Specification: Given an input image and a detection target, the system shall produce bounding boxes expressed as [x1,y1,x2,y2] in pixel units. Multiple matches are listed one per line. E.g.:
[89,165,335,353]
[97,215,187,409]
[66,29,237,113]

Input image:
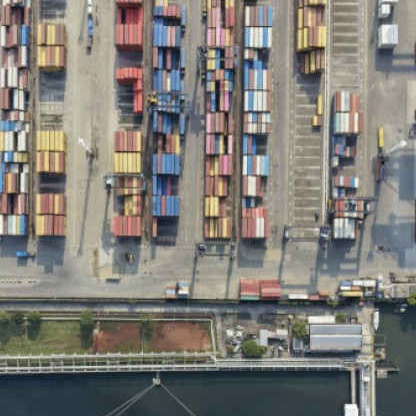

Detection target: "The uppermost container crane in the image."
[194,46,240,75]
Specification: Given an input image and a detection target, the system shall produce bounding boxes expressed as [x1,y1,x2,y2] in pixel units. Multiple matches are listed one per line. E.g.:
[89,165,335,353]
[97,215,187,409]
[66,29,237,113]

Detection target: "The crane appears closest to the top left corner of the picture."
[147,93,191,121]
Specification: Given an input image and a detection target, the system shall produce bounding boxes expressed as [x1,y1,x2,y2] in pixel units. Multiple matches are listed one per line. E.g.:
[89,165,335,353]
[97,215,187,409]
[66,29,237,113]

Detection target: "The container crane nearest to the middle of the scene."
[193,240,239,260]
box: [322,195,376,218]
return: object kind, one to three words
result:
container crane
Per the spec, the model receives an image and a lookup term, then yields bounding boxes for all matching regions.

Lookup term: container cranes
[193,240,239,260]
[147,93,191,121]
[102,173,150,197]
[278,225,330,245]
[194,46,240,75]
[322,195,376,218]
